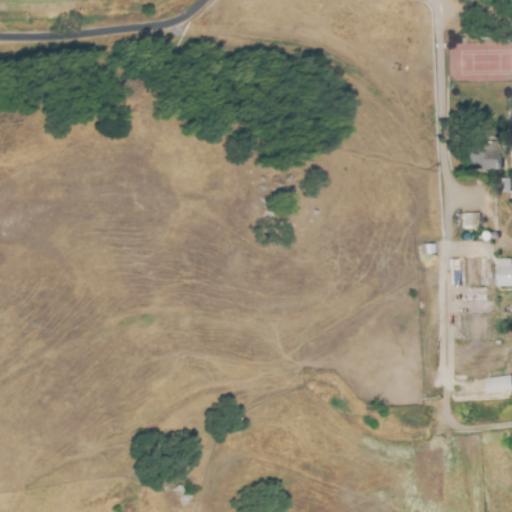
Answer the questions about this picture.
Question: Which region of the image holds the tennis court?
top right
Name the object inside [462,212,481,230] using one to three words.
house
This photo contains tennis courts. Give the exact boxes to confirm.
[450,42,512,82]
